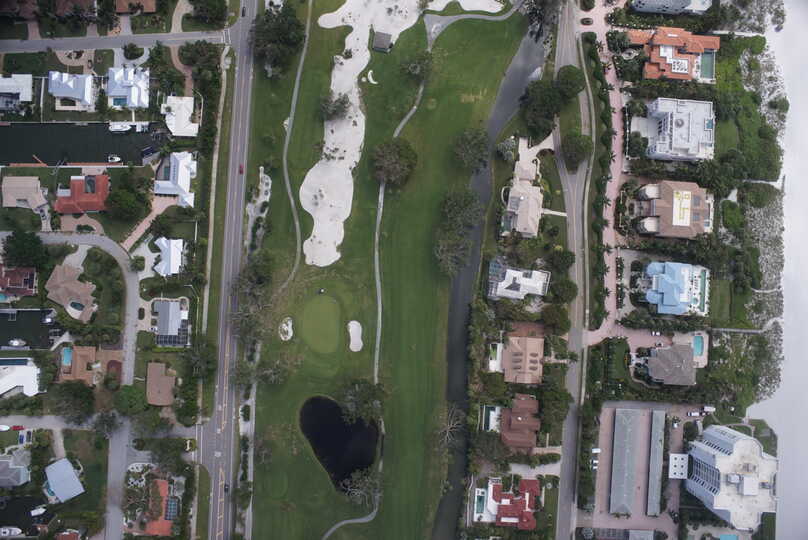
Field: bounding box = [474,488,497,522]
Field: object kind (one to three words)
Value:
swimming pool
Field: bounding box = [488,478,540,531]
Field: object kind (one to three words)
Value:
house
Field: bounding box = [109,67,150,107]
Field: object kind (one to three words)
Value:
house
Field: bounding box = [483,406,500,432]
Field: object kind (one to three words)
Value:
swimming pool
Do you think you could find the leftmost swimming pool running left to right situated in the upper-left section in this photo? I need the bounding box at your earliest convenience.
[54,96,94,111]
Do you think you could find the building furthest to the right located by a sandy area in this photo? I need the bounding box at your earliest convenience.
[686,425,779,532]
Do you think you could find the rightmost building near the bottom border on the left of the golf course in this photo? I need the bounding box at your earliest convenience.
[145,479,174,536]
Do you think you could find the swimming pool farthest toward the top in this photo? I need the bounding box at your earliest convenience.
[692,50,716,84]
